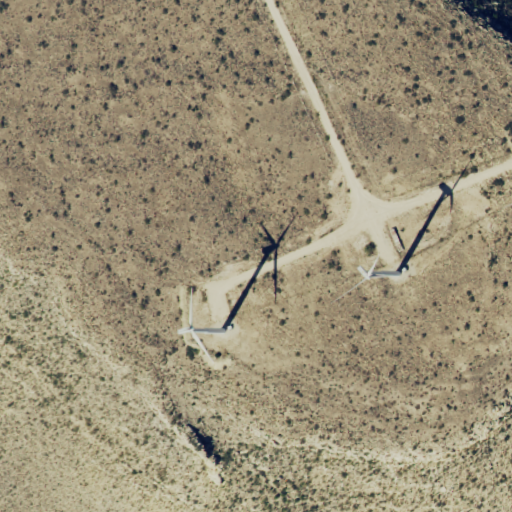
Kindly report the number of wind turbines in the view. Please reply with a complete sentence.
Altogether the scene contains 2 wind turbines.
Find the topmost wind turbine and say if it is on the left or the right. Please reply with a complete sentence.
The topmost wind turbine appears in the right half of the scene.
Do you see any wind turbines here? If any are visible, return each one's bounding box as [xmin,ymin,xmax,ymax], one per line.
[336,246,405,308]
[170,294,230,364]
